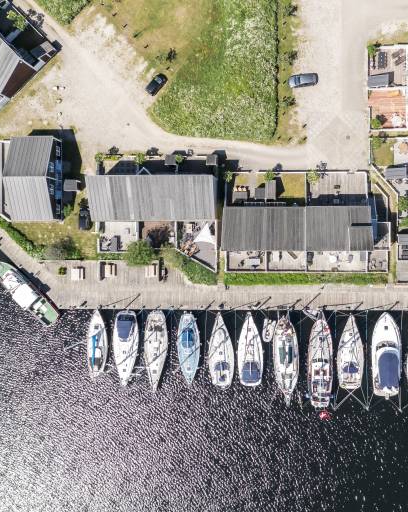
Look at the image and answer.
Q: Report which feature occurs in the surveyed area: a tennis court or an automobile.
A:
automobile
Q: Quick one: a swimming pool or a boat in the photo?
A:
boat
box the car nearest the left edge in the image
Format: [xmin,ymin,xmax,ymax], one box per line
[75,207,90,232]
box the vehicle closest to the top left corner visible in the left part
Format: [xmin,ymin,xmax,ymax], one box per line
[142,72,167,97]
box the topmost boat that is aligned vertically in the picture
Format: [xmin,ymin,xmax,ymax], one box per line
[262,310,274,343]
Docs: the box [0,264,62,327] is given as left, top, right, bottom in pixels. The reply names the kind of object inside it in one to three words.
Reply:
boat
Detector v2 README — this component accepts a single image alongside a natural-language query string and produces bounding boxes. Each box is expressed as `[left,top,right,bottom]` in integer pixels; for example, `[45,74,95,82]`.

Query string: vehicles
[142,72,167,97]
[288,71,318,87]
[75,207,90,232]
